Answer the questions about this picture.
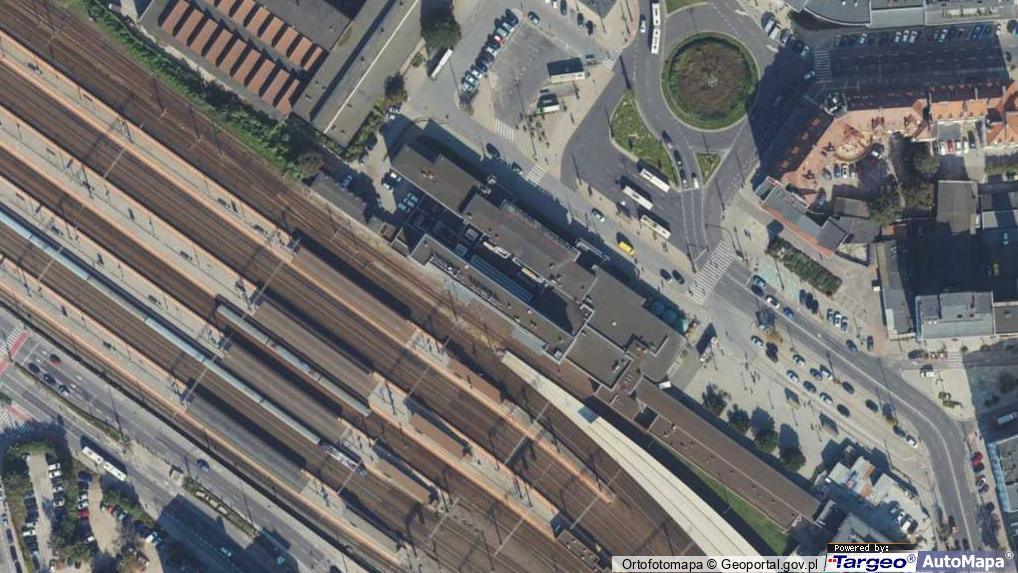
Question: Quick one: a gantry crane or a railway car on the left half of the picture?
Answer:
railway car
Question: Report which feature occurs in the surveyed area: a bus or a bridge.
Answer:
bus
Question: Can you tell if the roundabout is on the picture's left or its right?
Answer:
right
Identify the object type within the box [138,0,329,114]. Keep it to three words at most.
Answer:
building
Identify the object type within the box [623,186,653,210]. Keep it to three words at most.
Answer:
bus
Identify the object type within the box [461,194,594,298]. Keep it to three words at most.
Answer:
building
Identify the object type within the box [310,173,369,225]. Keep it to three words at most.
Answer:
shed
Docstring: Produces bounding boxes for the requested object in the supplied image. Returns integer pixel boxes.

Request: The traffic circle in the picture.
[661,32,761,130]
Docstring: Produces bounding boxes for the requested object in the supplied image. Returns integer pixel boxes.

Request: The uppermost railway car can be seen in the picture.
[0,208,34,238]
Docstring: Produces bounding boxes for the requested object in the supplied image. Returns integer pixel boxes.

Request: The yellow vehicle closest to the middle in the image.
[619,243,636,256]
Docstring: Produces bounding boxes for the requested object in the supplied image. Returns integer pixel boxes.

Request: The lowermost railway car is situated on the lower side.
[324,445,365,477]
